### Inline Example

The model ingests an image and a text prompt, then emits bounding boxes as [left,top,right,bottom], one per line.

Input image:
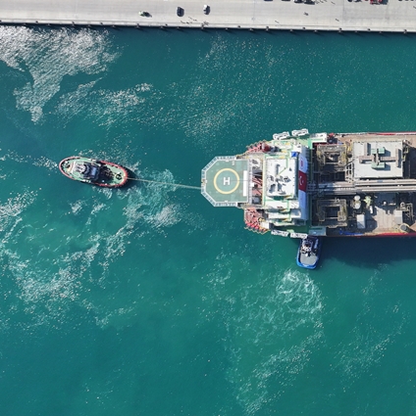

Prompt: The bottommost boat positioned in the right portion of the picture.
[294,237,322,274]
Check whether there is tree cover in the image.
No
